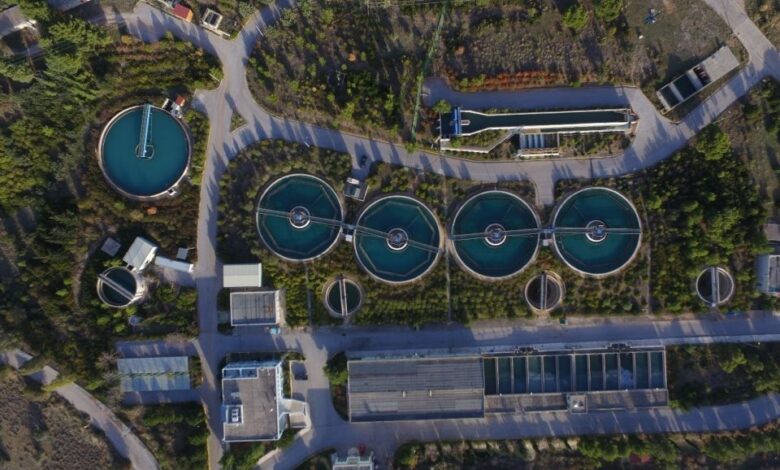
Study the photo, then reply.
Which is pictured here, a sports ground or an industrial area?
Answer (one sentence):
This looks like an industrial area.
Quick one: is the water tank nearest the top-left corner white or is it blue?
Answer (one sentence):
The water tank nearest the top-left corner looks blue in the image.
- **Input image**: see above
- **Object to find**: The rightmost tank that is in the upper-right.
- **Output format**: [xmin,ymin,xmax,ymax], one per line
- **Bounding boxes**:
[654,46,740,114]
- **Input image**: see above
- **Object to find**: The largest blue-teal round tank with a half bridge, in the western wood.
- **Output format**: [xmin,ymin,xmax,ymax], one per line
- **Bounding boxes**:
[98,102,195,200]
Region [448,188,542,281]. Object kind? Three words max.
storage tank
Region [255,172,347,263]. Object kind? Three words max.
storage tank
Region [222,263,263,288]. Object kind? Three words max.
shed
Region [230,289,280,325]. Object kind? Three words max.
building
